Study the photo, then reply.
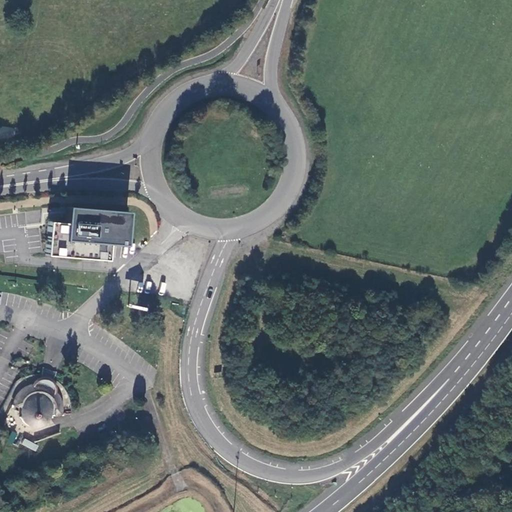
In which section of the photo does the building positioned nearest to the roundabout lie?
left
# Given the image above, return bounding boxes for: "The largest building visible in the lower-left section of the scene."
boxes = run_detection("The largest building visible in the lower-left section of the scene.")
[2,376,71,443]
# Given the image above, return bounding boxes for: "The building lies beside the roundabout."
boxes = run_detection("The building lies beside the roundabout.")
[46,208,134,261]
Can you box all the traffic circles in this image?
[131,72,308,243]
